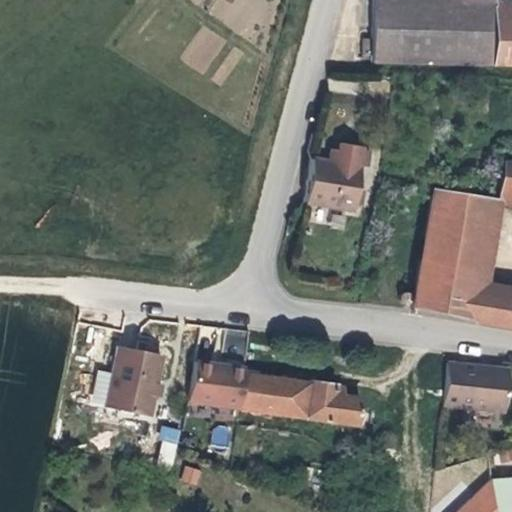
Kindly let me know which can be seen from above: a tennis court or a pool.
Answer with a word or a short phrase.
pool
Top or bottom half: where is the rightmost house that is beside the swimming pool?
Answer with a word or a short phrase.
bottom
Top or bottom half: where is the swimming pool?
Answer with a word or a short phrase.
bottom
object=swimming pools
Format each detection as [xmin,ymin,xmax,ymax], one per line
[208,425,232,459]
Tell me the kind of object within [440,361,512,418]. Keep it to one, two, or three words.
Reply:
house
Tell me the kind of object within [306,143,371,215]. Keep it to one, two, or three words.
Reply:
house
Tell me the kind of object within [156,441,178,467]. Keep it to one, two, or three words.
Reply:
shed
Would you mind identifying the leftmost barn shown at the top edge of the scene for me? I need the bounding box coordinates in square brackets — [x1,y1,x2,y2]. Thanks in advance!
[368,0,500,68]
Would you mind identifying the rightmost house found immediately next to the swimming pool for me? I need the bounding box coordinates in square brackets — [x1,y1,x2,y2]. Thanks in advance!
[238,368,368,429]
